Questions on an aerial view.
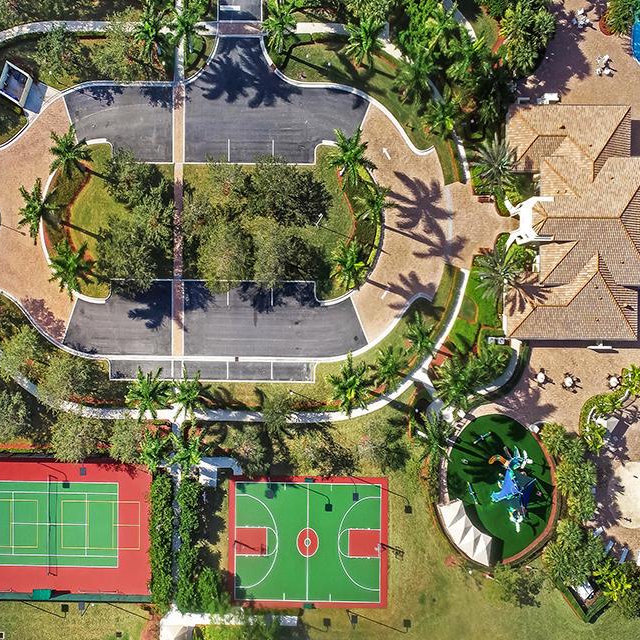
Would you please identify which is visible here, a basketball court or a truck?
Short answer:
basketball court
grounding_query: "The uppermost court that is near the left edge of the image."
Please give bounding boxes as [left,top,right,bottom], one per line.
[0,462,148,594]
